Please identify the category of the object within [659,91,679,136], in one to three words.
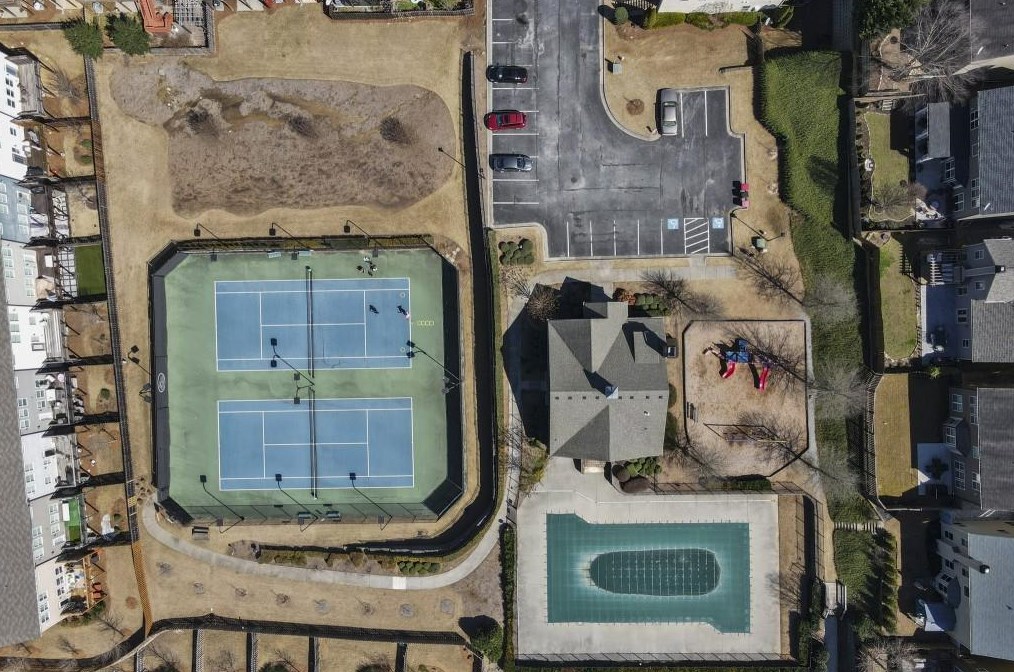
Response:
car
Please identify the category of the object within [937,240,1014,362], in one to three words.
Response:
house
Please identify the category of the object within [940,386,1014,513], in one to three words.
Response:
house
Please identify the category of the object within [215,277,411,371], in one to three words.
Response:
tennis court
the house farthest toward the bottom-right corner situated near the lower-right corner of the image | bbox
[933,497,1014,659]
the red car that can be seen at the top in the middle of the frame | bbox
[485,111,526,132]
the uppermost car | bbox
[487,64,526,85]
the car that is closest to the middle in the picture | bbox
[493,155,532,174]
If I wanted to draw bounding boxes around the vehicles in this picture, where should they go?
[493,155,532,174]
[487,64,526,85]
[659,91,679,136]
[485,111,526,132]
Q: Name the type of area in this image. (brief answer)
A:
residential area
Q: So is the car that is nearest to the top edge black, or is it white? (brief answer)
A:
black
